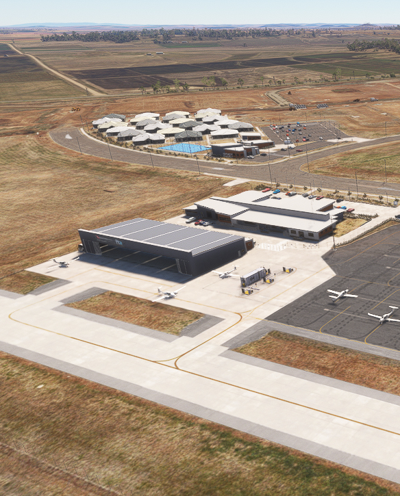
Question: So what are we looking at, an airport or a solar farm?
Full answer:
The area seen from above is an airport.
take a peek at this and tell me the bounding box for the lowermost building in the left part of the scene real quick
[74,218,244,275]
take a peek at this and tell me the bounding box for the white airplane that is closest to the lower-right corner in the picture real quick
[369,305,400,324]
